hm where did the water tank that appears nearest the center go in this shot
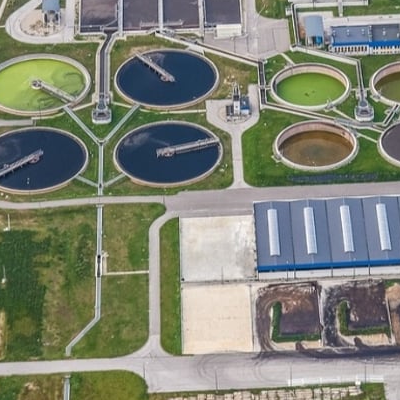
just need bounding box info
[112,120,223,187]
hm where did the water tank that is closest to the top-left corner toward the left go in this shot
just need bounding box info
[0,51,91,115]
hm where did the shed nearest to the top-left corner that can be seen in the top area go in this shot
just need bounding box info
[42,0,62,27]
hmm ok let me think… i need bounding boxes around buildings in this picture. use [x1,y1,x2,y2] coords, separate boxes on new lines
[329,23,400,55]
[253,190,400,283]
[42,0,62,27]
[217,88,257,121]
[304,16,323,48]
[215,24,243,43]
